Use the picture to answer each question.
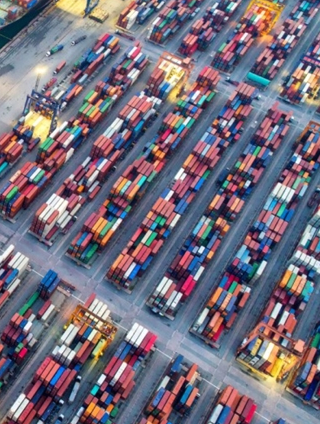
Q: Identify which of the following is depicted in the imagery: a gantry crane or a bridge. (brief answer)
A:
gantry crane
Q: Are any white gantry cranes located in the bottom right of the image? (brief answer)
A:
No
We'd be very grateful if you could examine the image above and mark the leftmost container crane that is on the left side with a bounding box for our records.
[21,88,65,130]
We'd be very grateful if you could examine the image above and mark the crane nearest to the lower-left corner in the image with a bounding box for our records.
[60,300,122,358]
